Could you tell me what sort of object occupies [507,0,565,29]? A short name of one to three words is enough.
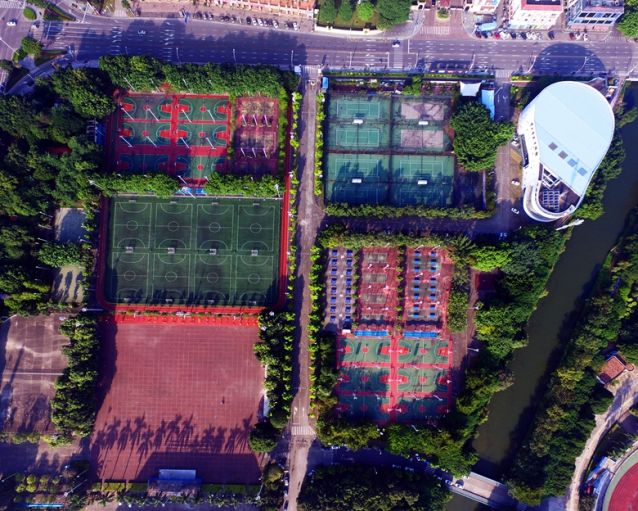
building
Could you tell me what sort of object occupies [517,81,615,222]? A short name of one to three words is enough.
building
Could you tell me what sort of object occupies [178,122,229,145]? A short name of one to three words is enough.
basketball court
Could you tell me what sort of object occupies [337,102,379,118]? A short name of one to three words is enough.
tennis court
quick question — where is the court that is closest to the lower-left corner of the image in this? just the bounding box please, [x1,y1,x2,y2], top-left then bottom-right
[51,264,84,303]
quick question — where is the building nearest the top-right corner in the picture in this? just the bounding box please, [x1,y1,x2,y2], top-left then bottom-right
[564,0,629,34]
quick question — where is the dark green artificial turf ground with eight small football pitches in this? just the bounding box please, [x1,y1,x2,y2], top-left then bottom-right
[97,92,292,314]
